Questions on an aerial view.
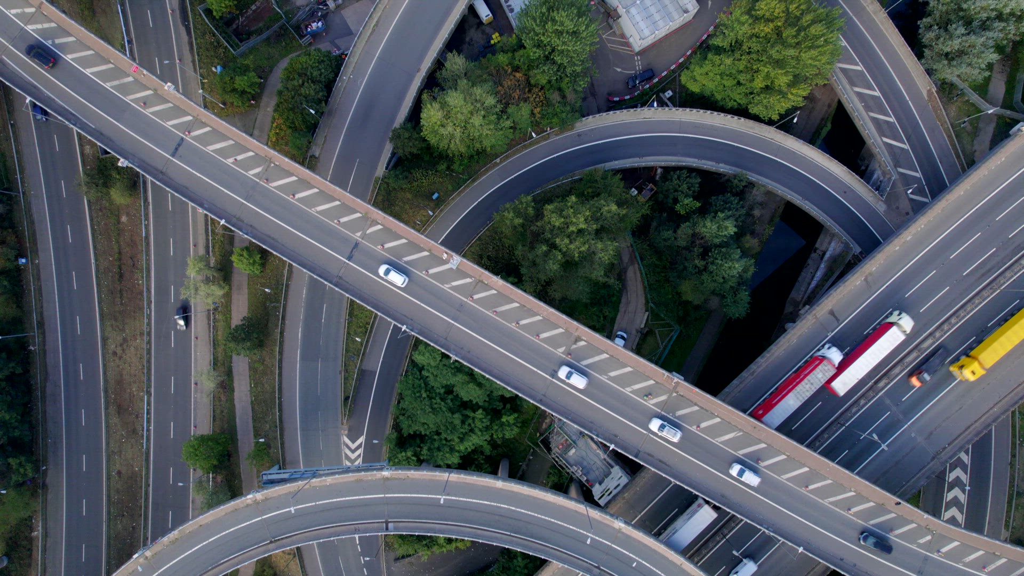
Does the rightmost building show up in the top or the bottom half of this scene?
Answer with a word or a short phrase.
top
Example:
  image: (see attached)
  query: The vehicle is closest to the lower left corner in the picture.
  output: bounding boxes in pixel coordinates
[172,304,186,329]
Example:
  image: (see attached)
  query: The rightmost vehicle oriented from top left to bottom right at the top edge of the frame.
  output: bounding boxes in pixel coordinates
[468,0,493,27]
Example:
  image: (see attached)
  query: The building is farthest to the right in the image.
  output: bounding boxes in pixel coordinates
[609,0,704,53]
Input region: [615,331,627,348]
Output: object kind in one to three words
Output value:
vehicle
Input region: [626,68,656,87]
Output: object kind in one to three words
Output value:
vehicle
